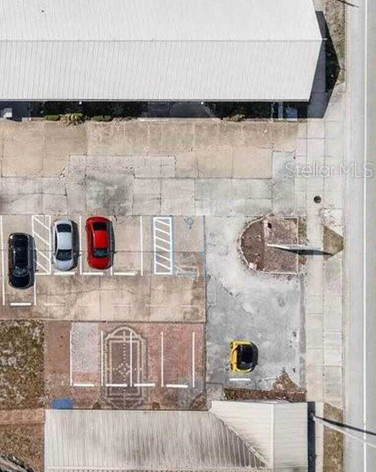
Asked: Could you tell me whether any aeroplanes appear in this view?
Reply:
No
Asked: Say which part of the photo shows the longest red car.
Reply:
left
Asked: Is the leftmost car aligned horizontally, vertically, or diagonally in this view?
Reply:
vertically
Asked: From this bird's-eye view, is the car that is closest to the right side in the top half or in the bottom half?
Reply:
bottom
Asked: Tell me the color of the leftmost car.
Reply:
black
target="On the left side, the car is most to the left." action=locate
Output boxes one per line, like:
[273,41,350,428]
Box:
[10,235,38,289]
